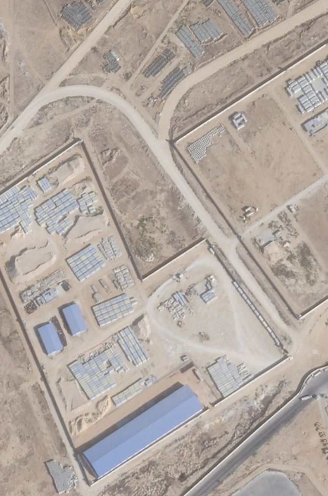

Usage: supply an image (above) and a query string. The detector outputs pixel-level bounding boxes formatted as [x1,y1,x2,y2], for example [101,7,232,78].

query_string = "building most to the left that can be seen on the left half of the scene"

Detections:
[38,323,63,356]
